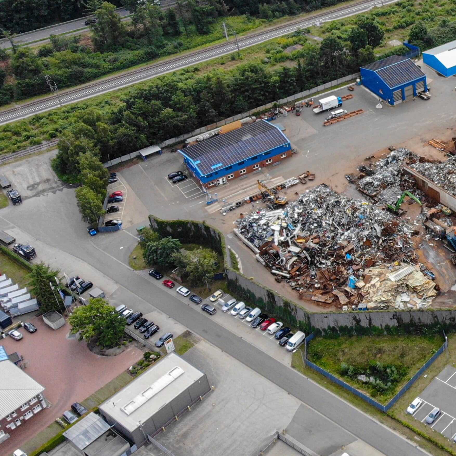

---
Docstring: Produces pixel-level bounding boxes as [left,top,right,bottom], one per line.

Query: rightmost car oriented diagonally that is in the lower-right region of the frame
[425,406,443,426]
